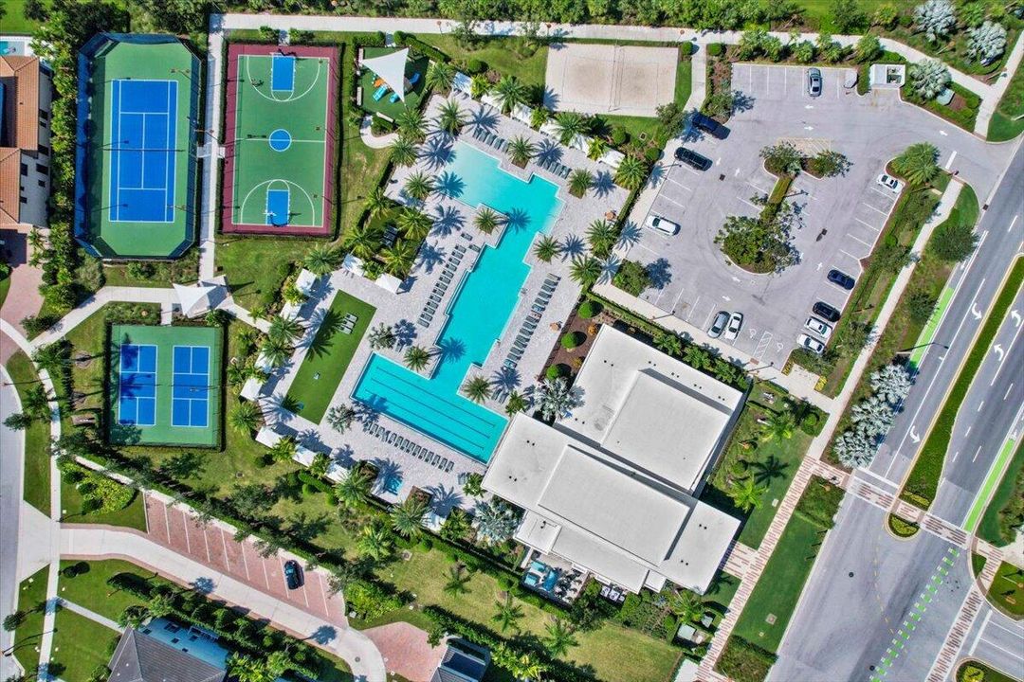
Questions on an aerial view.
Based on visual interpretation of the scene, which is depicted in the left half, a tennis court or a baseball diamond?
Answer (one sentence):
Looking in the left half, you will find a tennis court.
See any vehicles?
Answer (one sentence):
Yes, the picture does show a vehicle.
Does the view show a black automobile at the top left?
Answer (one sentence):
No, no black automobile appears at the top left.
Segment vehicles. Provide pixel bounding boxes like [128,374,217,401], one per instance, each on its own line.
[678,147,710,170]
[796,332,826,354]
[693,112,730,139]
[647,215,677,235]
[875,173,904,192]
[724,311,743,340]
[825,270,856,290]
[286,560,302,589]
[804,317,833,338]
[708,310,729,338]
[812,300,841,322]
[808,68,823,97]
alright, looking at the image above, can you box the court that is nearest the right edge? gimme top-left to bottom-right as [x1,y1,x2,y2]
[545,42,679,117]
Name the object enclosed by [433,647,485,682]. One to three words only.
house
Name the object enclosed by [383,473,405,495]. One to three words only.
swimming pool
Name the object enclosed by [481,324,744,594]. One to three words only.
building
